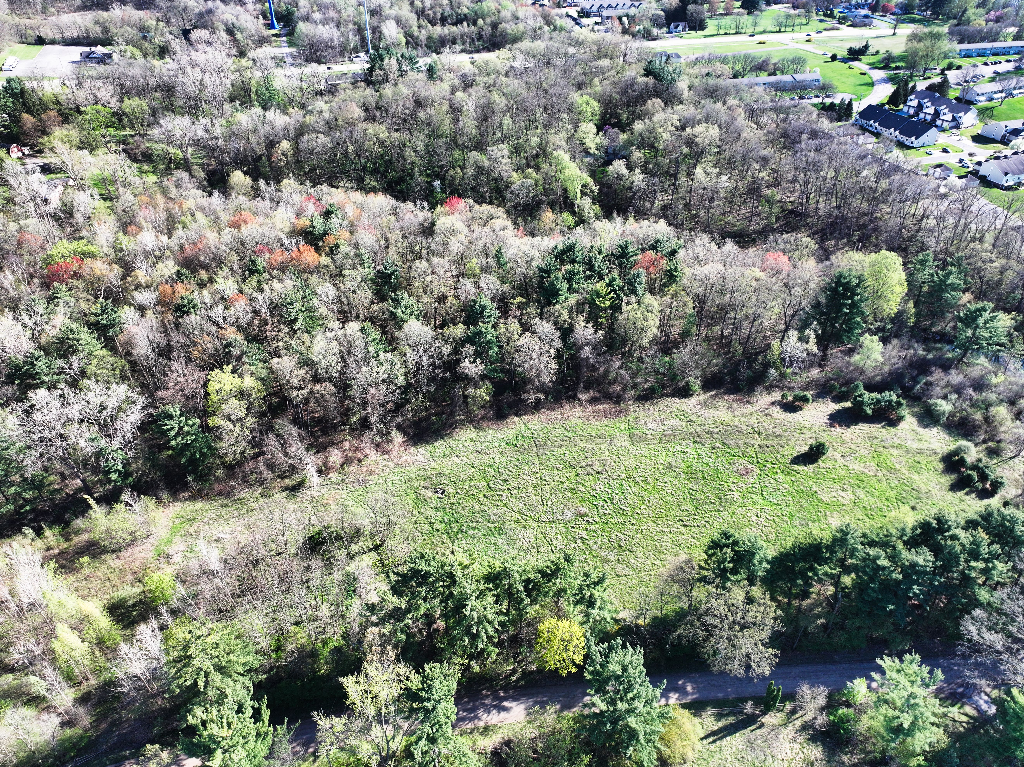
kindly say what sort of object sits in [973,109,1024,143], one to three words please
house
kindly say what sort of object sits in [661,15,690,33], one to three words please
house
